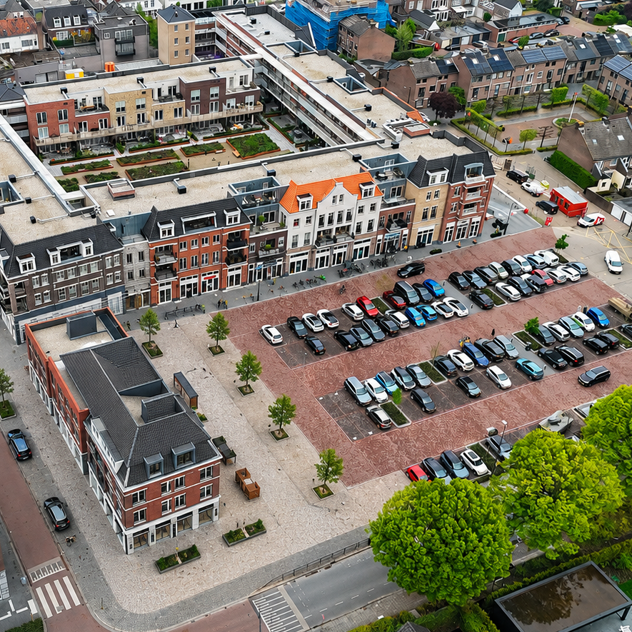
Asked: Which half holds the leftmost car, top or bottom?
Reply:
bottom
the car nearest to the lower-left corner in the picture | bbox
[43,498,73,534]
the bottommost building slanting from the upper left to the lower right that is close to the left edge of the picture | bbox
[24,302,225,554]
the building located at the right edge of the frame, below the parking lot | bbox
[497,561,632,632]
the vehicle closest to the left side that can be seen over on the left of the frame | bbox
[8,433,33,461]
